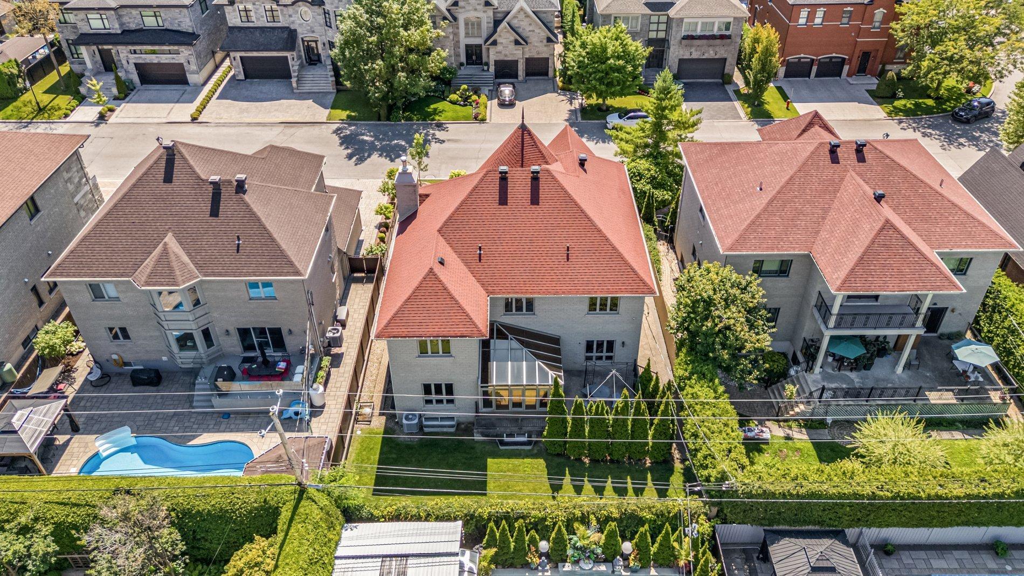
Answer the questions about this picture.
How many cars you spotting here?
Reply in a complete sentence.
In total, 3 cars can be seen.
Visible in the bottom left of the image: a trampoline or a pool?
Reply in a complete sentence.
The feature located in the bottom left of the image is a pool.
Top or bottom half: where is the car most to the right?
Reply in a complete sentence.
Seen from above, the car most to the right lies in the top half of the view.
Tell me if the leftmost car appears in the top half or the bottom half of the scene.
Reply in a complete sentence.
You can find the leftmost car in the top half.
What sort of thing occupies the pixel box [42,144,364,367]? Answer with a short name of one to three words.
house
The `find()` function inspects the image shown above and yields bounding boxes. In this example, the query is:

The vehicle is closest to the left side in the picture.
[495,77,518,102]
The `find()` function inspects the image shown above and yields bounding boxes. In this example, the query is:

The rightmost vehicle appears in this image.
[955,92,1006,123]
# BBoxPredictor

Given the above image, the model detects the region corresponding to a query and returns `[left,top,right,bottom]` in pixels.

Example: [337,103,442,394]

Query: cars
[495,77,518,102]
[607,109,658,134]
[955,92,1006,123]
